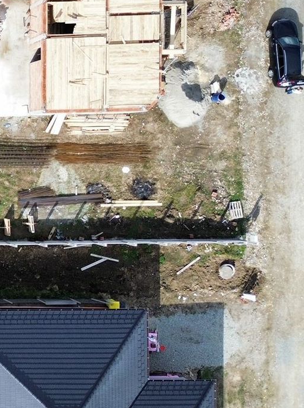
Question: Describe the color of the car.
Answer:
black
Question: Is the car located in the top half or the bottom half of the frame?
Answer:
top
